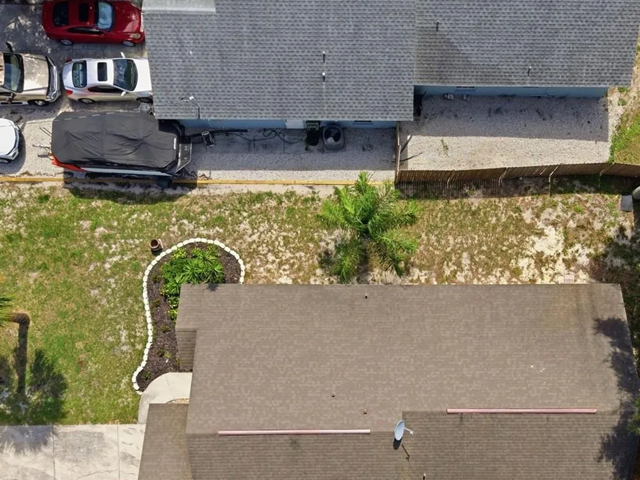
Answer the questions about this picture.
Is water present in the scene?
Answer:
No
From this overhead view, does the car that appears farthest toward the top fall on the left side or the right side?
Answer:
left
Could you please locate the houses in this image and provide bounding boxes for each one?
[142,0,640,130]
[139,283,638,480]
